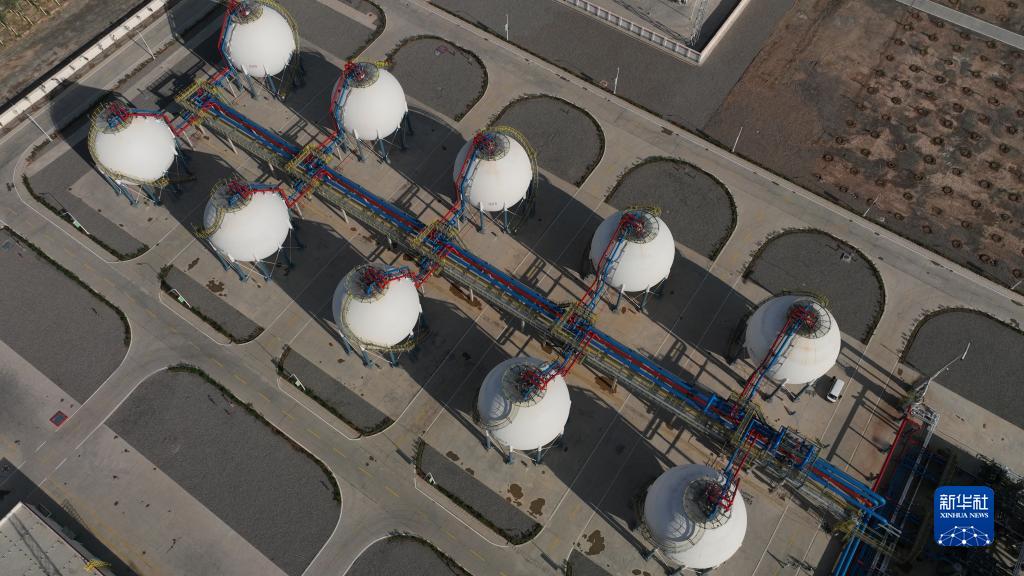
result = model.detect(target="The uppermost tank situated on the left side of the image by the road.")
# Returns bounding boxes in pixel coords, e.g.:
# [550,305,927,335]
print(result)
[211,0,308,98]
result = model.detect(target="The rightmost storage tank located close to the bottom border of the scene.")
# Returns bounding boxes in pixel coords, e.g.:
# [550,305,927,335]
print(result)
[632,446,747,576]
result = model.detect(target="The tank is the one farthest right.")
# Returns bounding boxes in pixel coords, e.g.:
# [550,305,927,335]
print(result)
[726,287,840,409]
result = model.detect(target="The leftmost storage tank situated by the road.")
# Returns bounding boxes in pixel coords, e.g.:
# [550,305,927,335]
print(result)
[86,102,198,205]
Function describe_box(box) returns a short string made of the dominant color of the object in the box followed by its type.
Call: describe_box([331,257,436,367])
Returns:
white storage tank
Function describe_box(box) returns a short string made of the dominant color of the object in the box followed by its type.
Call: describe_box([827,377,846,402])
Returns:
white vehicle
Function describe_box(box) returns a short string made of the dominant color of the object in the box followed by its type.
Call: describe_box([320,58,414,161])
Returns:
white storage tank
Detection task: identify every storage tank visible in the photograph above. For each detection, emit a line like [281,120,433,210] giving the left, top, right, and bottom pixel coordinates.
[320,58,414,161]
[211,0,308,98]
[195,177,310,281]
[331,257,436,367]
[86,102,198,205]
[470,345,579,465]
[726,287,840,409]
[632,446,747,576]
[442,125,538,232]
[580,202,676,313]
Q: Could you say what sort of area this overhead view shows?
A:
industrial area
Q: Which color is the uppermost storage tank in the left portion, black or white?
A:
white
